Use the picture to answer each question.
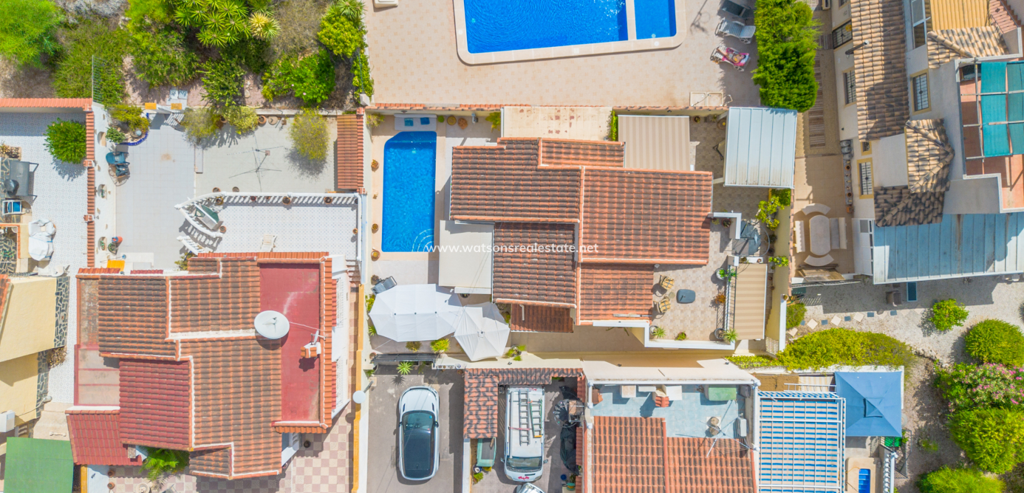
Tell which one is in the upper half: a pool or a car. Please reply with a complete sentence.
It is a pool that can be seen in the upper half.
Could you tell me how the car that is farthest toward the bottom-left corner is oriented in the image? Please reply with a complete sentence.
In this picture, the car that is farthest toward the bottom-left corner is oriented up and down.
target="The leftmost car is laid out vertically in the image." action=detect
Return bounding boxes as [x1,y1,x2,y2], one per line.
[395,382,441,481]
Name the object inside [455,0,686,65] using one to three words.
swimming pool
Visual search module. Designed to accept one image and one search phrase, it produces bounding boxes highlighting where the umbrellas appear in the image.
[833,372,902,437]
[712,143,725,159]
[370,284,463,342]
[454,302,509,361]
